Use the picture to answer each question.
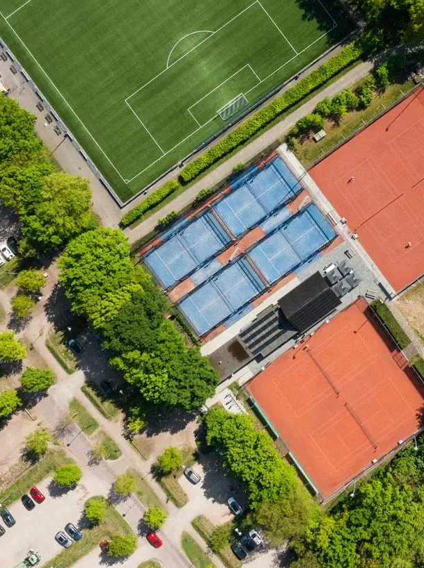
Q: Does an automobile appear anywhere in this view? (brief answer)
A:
Yes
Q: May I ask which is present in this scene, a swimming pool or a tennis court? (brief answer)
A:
tennis court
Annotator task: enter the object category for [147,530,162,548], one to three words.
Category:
car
